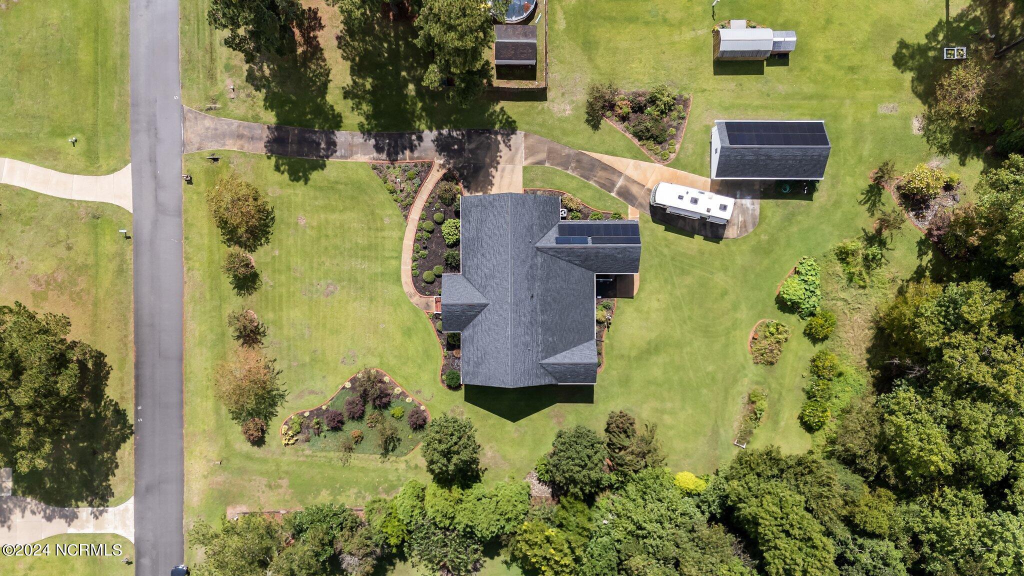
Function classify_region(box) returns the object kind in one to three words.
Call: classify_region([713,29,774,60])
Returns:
barn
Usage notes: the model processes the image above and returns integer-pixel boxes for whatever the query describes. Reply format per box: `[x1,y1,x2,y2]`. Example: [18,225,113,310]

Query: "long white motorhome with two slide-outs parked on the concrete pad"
[646,179,735,225]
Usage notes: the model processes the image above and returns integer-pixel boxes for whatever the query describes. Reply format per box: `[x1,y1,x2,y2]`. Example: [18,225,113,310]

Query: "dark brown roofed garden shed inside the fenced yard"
[495,24,537,67]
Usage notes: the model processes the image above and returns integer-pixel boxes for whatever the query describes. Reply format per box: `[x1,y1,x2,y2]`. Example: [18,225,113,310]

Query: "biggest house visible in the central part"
[434,193,641,388]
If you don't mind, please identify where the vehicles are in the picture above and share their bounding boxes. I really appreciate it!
[646,179,735,225]
[172,567,190,576]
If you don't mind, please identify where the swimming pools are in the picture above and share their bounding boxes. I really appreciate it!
[490,0,537,22]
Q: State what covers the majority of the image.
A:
grass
